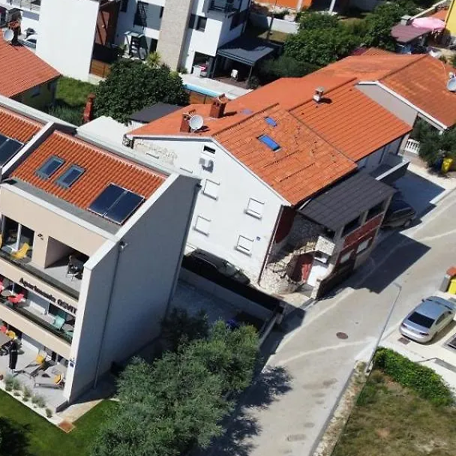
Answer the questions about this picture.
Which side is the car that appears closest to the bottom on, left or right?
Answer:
right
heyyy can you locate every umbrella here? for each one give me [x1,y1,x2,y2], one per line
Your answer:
[404,15,452,42]
[8,333,20,374]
